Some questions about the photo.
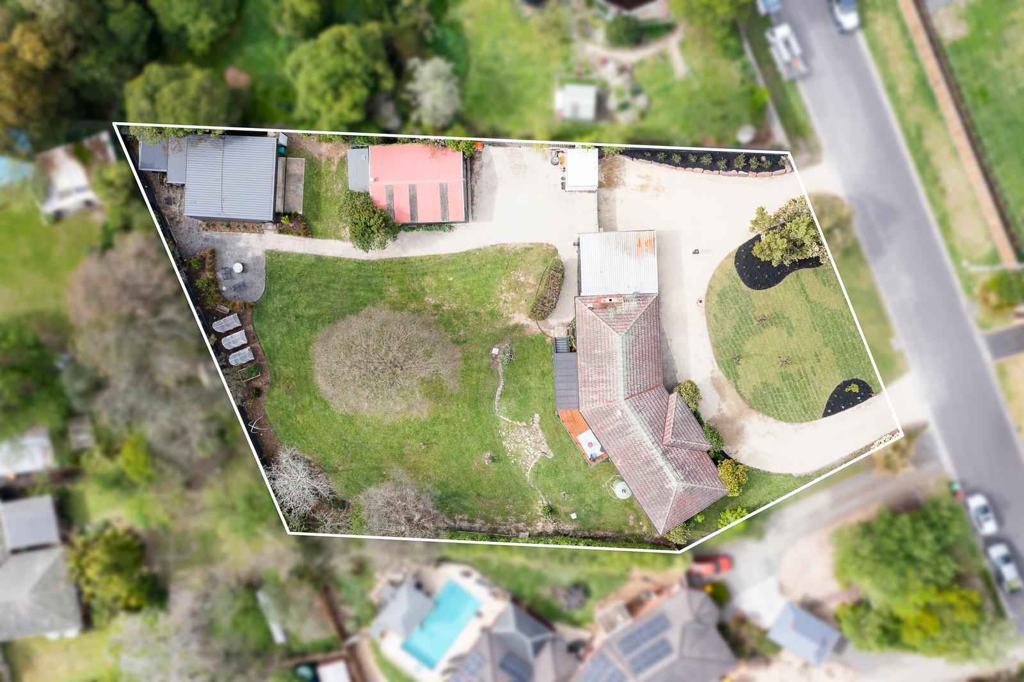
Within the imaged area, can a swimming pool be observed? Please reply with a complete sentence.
Yes, a swimming pool can be made out from above.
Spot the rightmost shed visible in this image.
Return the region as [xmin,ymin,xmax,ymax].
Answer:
[761,595,840,667]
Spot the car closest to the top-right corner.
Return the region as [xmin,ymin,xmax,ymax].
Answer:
[828,0,862,35]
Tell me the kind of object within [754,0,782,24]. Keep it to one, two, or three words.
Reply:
car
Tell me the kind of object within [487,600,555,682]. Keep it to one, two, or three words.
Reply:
house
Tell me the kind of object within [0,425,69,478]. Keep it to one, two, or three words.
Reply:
shed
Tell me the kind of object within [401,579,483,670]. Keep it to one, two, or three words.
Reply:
swimming pool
